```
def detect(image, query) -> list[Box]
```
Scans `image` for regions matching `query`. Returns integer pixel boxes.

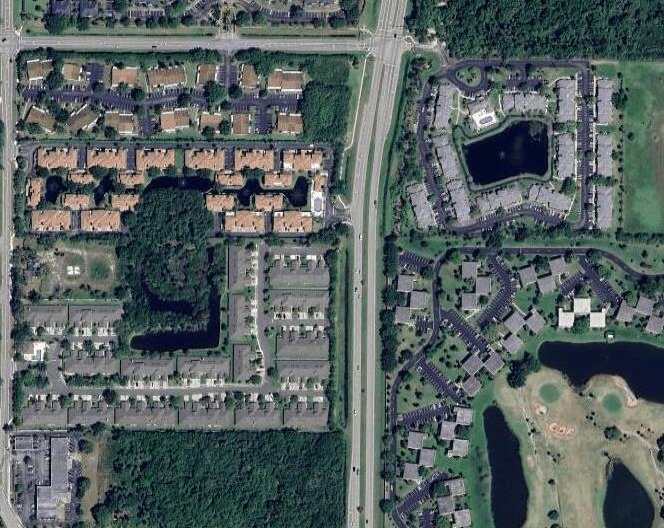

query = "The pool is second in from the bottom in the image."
[312,193,325,216]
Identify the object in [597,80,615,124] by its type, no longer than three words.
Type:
building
